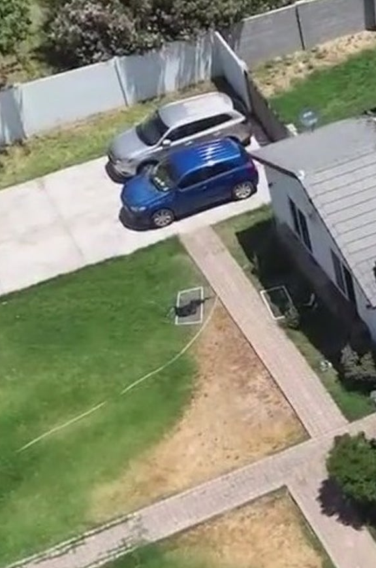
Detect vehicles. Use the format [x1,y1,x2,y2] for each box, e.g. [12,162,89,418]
[115,135,261,226]
[100,83,255,180]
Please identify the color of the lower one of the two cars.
blue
